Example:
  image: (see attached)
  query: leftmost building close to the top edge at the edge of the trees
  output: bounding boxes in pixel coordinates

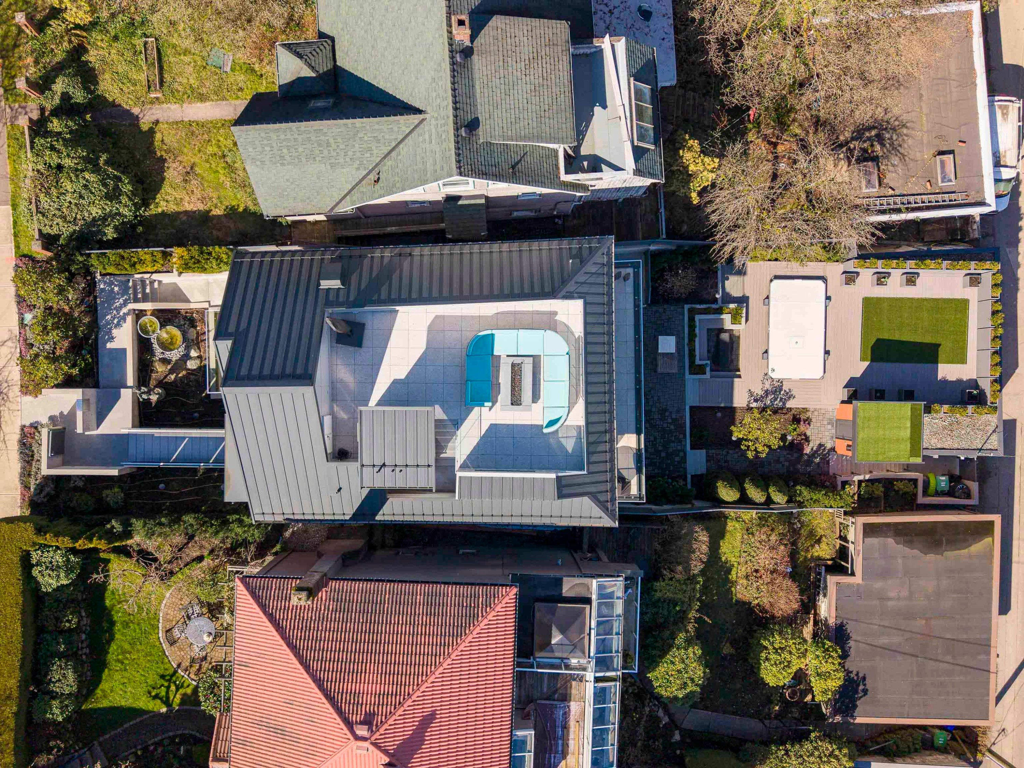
[231,0,676,239]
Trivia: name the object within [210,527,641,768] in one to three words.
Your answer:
house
